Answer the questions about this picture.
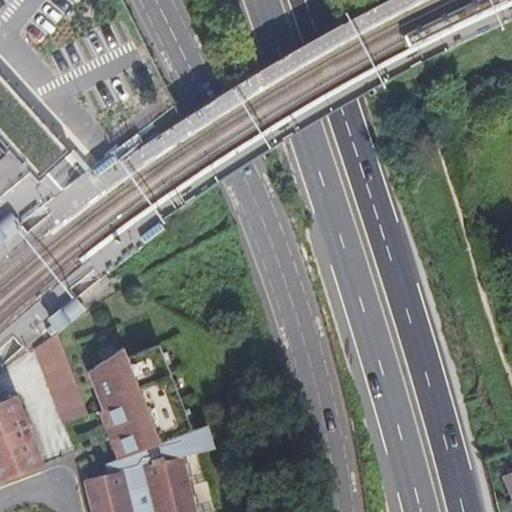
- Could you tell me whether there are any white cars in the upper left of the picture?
Yes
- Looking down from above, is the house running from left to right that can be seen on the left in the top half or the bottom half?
bottom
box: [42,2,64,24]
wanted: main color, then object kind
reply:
white car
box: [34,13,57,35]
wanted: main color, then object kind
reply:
white car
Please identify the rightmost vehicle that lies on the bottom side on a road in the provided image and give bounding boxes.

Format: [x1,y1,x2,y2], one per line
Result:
[445,425,460,449]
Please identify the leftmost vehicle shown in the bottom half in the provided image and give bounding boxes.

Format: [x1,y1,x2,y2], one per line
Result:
[323,408,338,432]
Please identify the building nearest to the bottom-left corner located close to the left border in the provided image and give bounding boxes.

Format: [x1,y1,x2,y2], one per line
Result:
[0,396,44,484]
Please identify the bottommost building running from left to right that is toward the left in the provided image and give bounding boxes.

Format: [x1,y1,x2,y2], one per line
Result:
[84,458,199,512]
